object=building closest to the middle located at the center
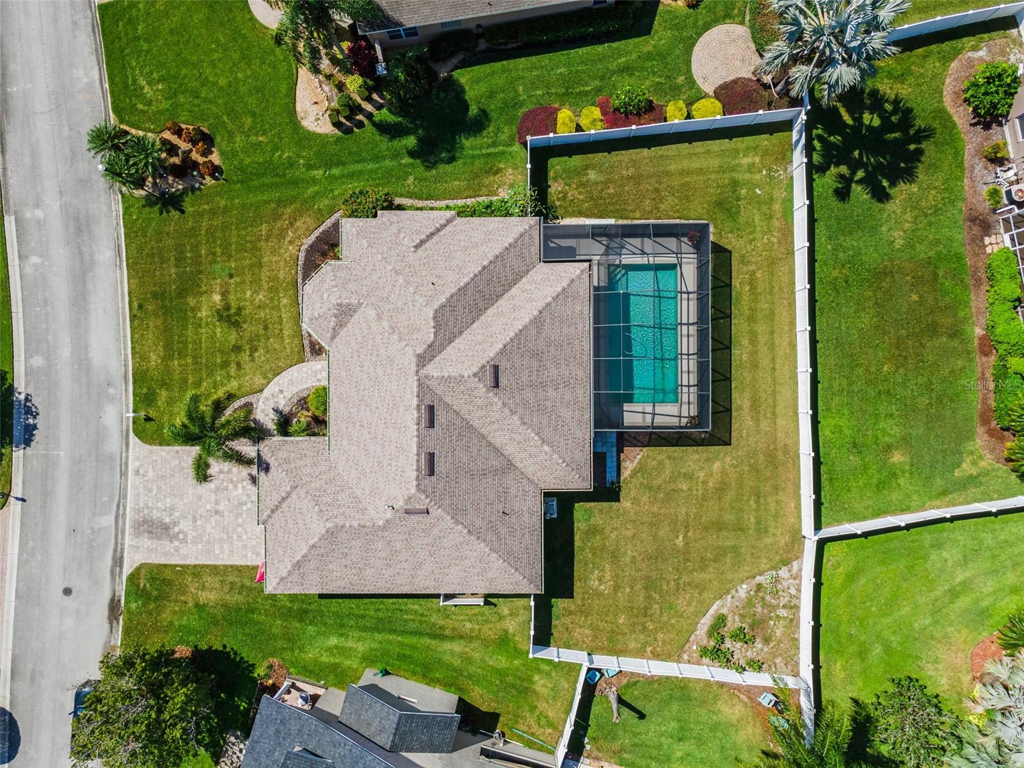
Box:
[256,209,593,596]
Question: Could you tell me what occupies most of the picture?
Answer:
grass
